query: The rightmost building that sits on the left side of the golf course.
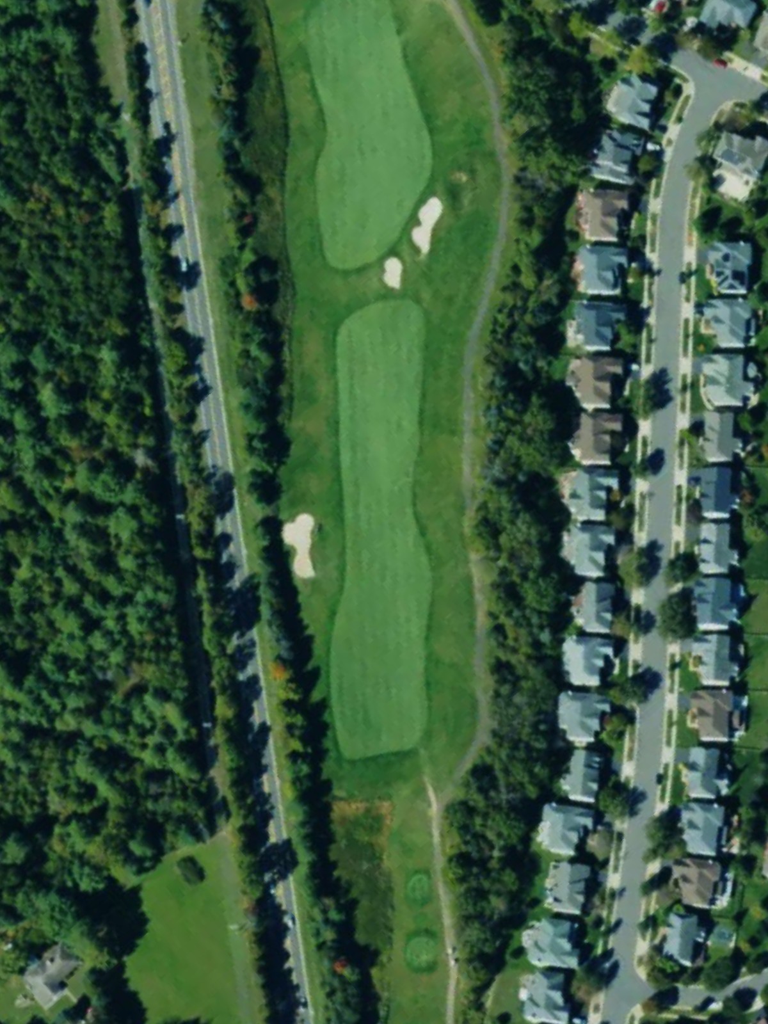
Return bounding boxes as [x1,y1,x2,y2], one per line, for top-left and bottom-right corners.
[23,941,81,1008]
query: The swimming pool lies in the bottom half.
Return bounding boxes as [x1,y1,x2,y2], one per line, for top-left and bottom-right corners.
[709,926,736,948]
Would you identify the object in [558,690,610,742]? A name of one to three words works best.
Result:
house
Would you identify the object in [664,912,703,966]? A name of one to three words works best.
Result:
house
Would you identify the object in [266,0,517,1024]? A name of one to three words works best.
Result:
golf course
